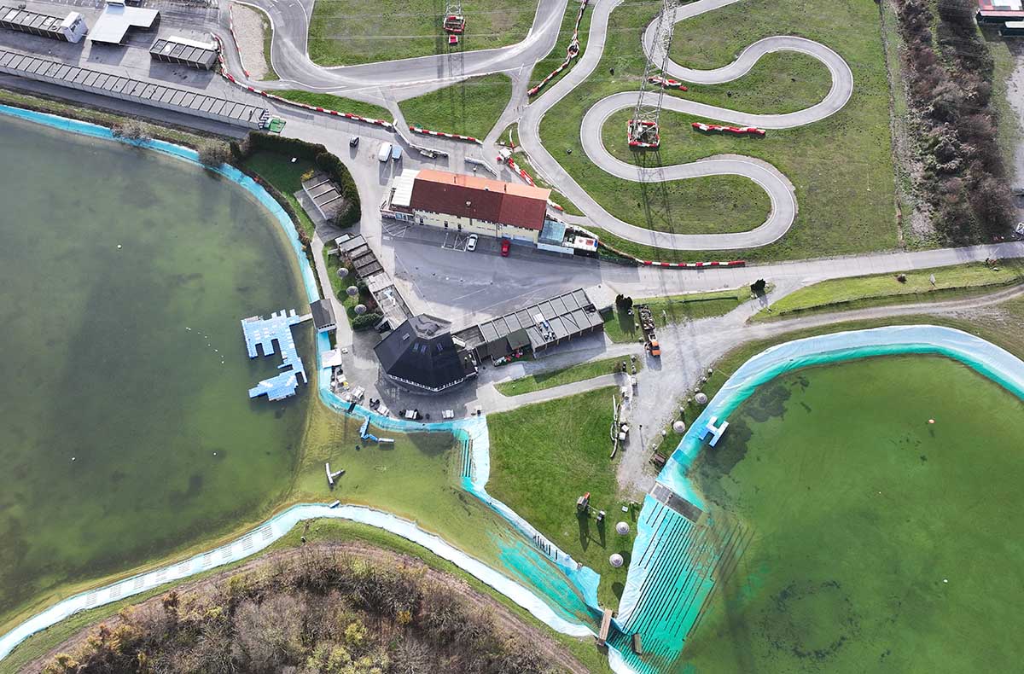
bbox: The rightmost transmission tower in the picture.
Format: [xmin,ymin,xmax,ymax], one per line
[625,0,684,146]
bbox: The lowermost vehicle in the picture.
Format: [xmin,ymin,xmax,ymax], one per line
[645,329,665,357]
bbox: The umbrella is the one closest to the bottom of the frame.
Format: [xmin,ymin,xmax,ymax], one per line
[609,554,622,568]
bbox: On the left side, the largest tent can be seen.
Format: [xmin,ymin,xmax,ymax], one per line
[321,349,344,374]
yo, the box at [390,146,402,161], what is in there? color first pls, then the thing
white vehicle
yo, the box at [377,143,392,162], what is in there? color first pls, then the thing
white vehicle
